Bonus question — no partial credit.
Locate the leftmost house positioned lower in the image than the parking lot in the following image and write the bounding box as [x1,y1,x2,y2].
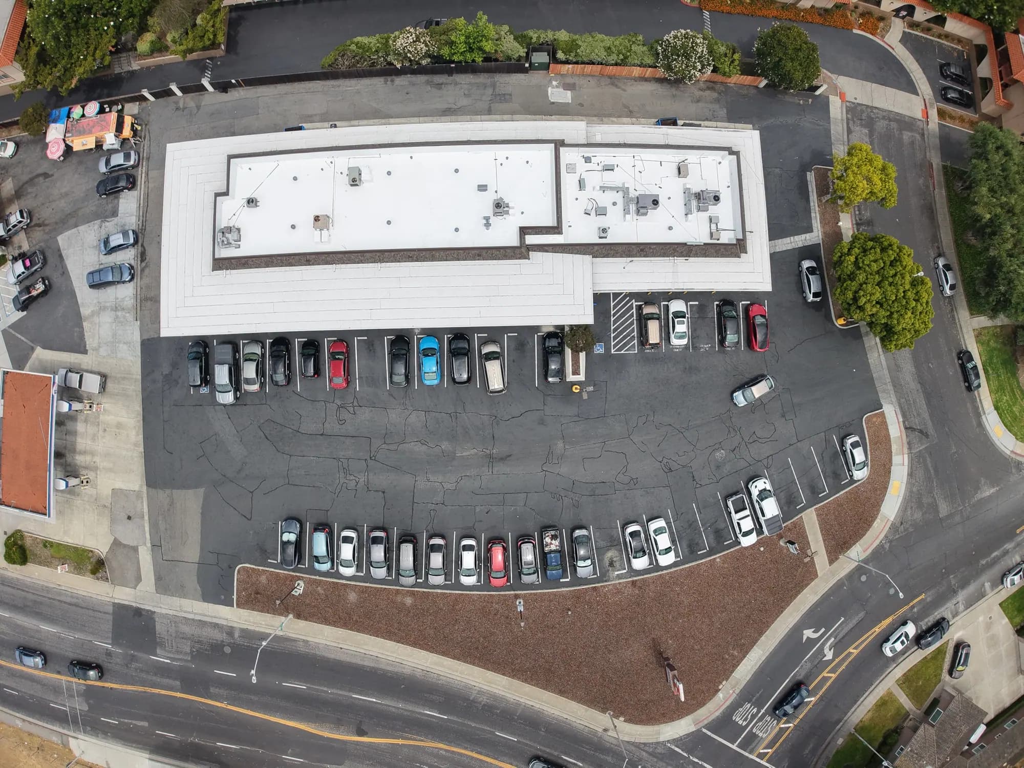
[887,690,989,768]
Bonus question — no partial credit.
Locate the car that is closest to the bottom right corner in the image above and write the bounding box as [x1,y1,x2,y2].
[944,639,974,679]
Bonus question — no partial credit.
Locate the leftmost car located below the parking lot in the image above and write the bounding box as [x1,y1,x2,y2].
[15,644,51,669]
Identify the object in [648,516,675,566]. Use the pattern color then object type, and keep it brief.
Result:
white car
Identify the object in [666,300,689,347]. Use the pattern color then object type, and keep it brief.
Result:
white car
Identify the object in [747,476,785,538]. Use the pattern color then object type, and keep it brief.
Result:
white truck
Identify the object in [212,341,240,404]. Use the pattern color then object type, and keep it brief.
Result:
gray truck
